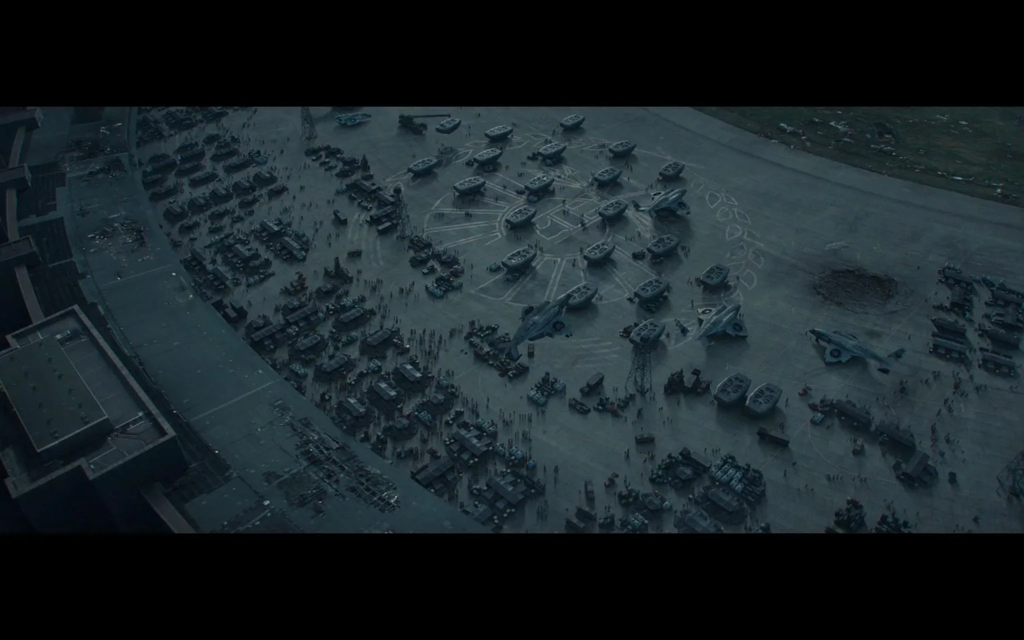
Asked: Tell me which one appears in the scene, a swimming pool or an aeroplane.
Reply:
aeroplane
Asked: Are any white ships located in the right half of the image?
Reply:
No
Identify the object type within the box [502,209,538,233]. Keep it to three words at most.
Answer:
ship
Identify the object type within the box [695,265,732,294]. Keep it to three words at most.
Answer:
ship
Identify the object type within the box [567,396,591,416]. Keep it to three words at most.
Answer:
vehicle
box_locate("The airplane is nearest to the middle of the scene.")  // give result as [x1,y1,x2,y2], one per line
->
[496,310,579,374]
